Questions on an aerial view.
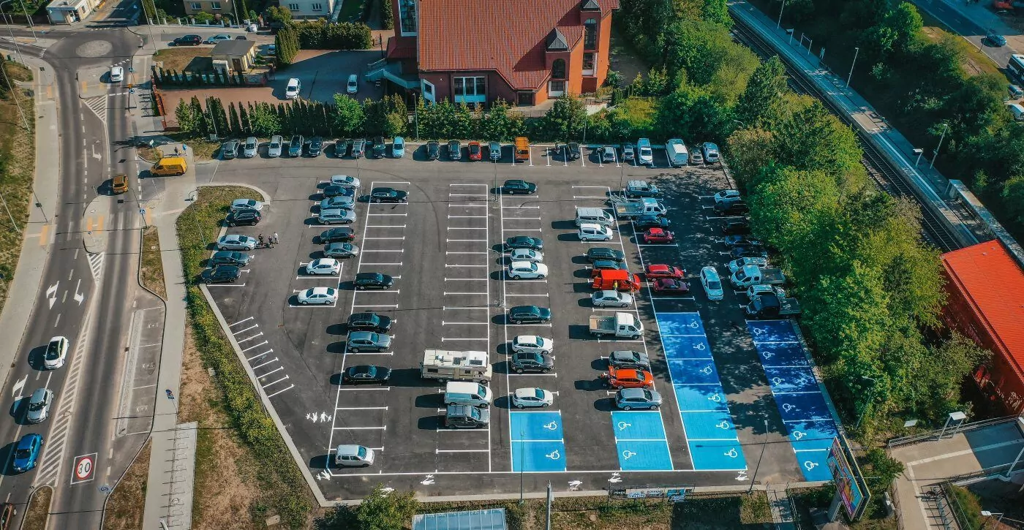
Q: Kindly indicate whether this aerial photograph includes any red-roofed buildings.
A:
Yes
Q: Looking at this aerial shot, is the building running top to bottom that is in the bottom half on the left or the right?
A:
right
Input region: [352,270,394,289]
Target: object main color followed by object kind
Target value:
black car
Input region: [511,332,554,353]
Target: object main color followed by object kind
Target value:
white car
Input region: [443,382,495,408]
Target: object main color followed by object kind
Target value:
white vehicle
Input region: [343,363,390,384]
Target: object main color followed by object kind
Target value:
black car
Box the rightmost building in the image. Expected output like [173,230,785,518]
[942,234,1024,434]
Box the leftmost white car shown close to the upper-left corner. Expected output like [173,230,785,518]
[108,67,125,81]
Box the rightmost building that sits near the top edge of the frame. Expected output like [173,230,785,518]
[365,0,621,108]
